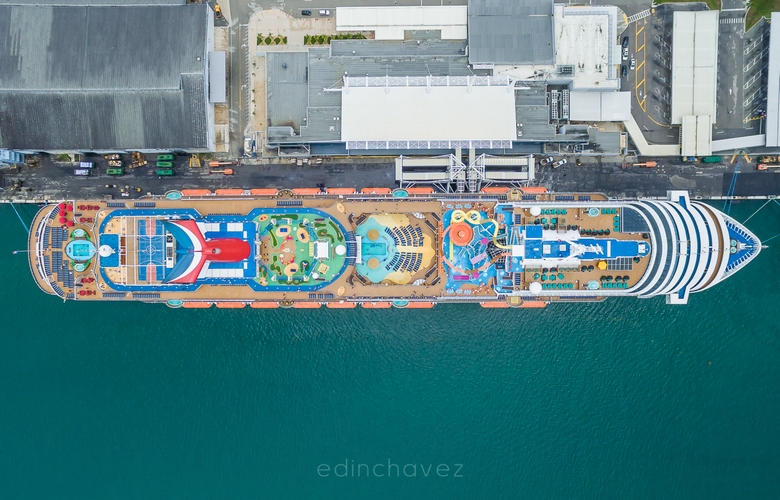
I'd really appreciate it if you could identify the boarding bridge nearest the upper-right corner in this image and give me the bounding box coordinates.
[465,149,535,193]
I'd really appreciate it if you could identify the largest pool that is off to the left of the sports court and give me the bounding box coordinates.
[66,238,96,263]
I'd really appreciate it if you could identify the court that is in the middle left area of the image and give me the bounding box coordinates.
[138,220,166,282]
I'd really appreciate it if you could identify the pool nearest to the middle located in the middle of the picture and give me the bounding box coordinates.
[362,231,395,269]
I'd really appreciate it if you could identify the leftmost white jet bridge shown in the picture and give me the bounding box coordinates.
[395,149,465,194]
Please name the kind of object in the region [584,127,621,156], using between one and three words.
building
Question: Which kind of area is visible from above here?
port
